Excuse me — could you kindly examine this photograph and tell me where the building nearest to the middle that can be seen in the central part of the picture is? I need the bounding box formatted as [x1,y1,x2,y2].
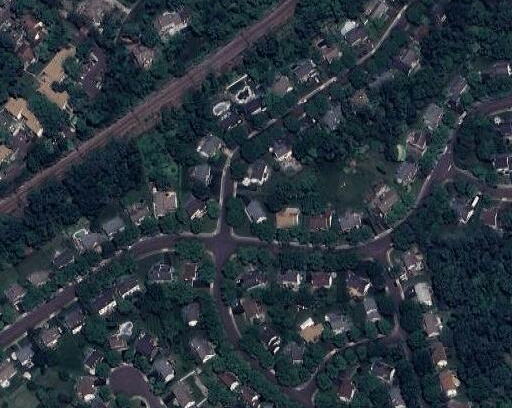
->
[244,199,268,225]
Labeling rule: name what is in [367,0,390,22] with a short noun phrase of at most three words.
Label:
house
